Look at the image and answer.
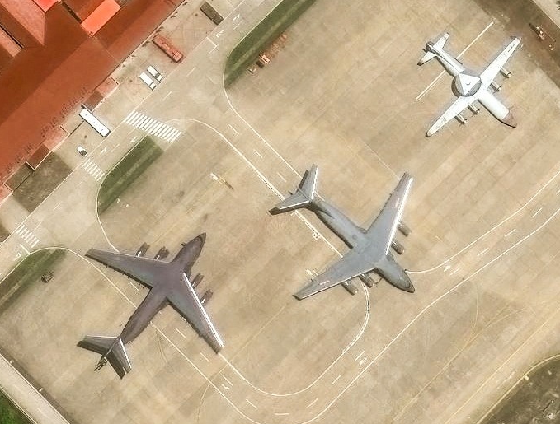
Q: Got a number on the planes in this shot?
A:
three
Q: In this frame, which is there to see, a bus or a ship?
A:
bus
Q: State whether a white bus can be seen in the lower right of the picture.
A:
No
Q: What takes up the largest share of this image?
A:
paved ground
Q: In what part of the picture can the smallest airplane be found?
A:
top right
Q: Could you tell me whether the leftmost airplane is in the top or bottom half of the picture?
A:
bottom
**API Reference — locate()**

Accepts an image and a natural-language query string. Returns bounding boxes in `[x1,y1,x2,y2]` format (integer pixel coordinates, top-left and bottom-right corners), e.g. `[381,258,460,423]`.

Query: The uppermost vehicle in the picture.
[199,0,224,23]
